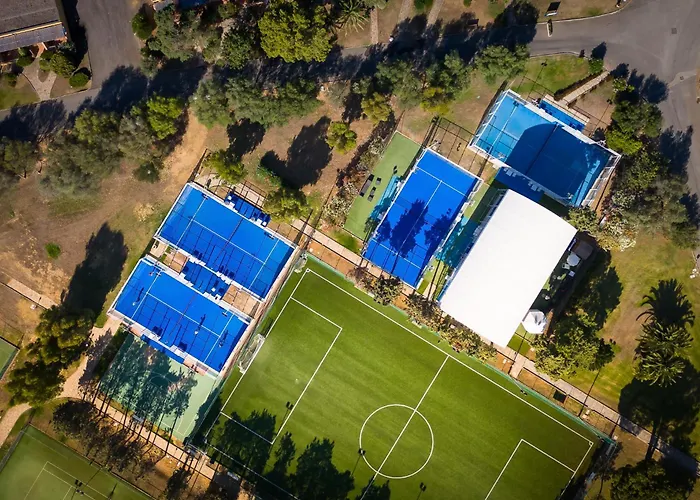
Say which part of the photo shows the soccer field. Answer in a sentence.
The soccer field sits in the bottom section of the image.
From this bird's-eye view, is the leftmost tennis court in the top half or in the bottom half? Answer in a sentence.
The bottom half of the photo is where the leftmost tennis court is.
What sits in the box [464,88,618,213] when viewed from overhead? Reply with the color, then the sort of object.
blue sports court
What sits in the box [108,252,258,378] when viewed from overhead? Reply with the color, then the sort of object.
blue sports court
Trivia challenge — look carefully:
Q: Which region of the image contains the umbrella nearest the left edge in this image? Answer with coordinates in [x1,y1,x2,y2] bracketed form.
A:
[521,309,546,333]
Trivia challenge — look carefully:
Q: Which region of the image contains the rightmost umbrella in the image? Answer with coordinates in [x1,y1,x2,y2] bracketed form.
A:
[563,252,580,266]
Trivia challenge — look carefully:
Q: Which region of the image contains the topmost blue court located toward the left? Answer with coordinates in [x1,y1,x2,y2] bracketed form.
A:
[154,181,303,304]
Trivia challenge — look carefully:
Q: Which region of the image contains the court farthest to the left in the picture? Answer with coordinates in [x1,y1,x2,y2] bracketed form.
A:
[0,330,21,378]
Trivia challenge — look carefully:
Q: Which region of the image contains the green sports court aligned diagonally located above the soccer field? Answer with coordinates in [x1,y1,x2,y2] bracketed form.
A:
[343,131,421,240]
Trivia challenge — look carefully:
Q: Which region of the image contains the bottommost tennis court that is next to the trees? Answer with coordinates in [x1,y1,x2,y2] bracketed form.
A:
[0,418,166,500]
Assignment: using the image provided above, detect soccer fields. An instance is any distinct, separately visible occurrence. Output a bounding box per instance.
[189,258,608,500]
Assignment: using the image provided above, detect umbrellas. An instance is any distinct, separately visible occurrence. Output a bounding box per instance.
[563,252,580,266]
[521,309,546,333]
